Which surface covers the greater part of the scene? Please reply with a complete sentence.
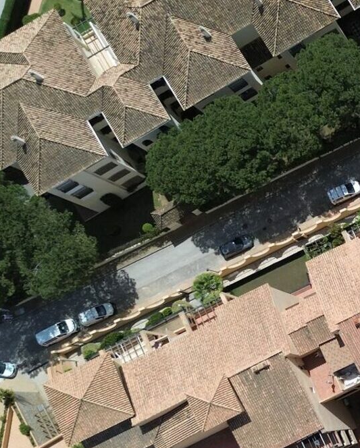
The scene is dominated by buildings.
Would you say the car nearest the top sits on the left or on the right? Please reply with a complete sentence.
It is on the right.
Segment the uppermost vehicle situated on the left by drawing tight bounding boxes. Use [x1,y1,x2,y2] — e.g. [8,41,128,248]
[78,303,116,326]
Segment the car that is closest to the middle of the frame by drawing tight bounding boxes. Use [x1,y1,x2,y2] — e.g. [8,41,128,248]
[217,234,255,259]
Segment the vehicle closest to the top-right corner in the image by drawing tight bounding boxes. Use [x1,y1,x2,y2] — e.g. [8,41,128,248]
[325,180,360,204]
